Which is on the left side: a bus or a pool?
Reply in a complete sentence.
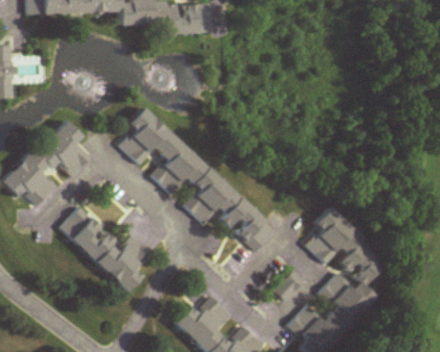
What appears on the left side is a pool.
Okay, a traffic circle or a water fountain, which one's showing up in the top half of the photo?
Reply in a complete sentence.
The one visible in the top half of the photo is a water fountain.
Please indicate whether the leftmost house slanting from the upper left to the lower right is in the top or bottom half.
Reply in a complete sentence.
You can find the leftmost house slanting from the upper left to the lower right in the bottom half.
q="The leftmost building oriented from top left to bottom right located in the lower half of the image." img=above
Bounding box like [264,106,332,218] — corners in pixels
[60,209,147,292]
